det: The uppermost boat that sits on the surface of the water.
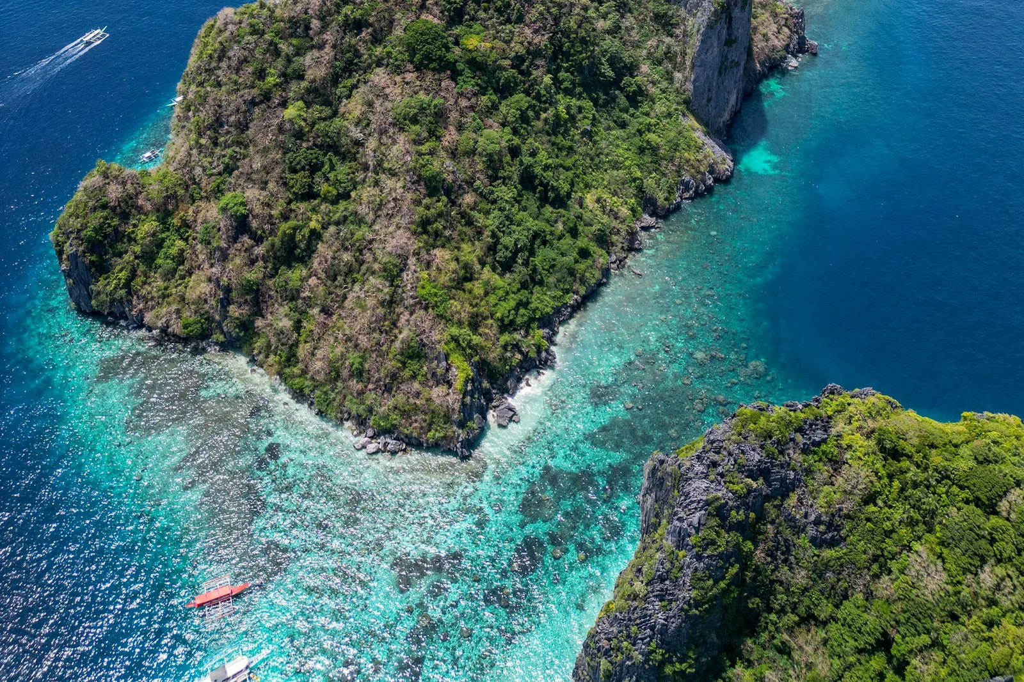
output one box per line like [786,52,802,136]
[77,26,110,45]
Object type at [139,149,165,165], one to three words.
boat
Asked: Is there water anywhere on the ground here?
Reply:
Yes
